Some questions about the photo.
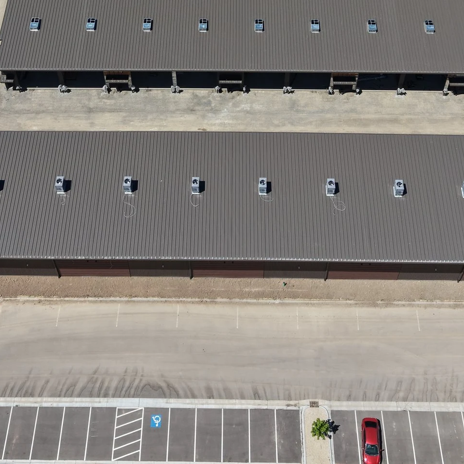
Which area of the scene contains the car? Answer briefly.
bottom right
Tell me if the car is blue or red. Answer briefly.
red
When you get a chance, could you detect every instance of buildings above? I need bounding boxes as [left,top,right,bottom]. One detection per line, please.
[0,130,464,285]
[0,0,464,93]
